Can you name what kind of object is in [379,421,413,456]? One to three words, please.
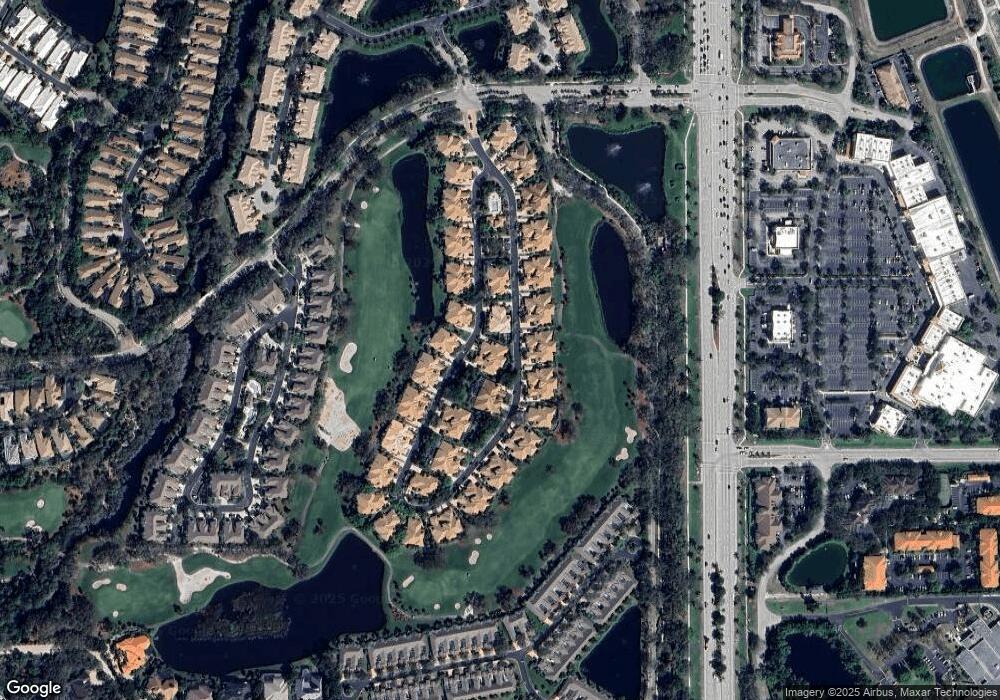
house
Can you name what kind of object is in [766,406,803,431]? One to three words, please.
building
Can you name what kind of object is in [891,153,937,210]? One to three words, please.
building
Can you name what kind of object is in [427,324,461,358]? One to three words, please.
house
